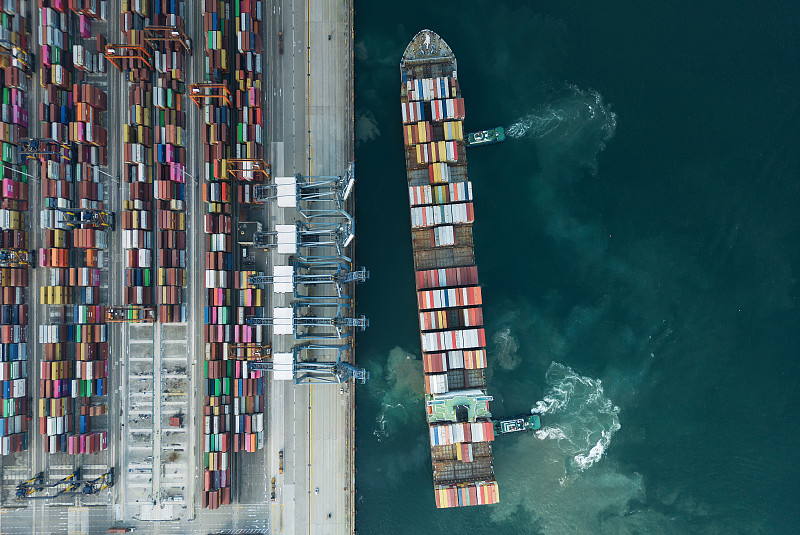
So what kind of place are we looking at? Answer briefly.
port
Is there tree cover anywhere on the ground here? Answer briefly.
No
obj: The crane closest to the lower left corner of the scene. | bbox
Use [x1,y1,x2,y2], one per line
[16,471,78,500]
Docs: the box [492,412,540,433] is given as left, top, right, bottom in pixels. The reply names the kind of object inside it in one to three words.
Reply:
boat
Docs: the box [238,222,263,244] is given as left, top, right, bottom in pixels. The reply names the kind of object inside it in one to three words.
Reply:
building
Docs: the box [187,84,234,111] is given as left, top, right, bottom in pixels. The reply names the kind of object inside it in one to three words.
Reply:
container crane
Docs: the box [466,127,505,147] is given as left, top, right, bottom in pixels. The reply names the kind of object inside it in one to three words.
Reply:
boat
